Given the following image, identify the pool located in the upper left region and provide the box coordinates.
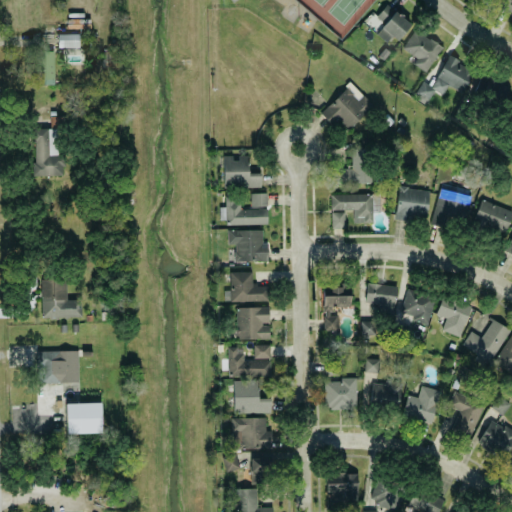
[66,49,85,70]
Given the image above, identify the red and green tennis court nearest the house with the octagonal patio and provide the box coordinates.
[320,0,378,38]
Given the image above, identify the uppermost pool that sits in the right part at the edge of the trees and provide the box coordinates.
[372,212,389,232]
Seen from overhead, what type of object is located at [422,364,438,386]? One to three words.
swimming pool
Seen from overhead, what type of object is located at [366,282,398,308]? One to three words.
house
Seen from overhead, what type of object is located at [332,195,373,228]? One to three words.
house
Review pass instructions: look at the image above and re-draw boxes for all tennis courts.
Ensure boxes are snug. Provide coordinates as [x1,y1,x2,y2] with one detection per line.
[301,0,334,16]
[320,0,378,38]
